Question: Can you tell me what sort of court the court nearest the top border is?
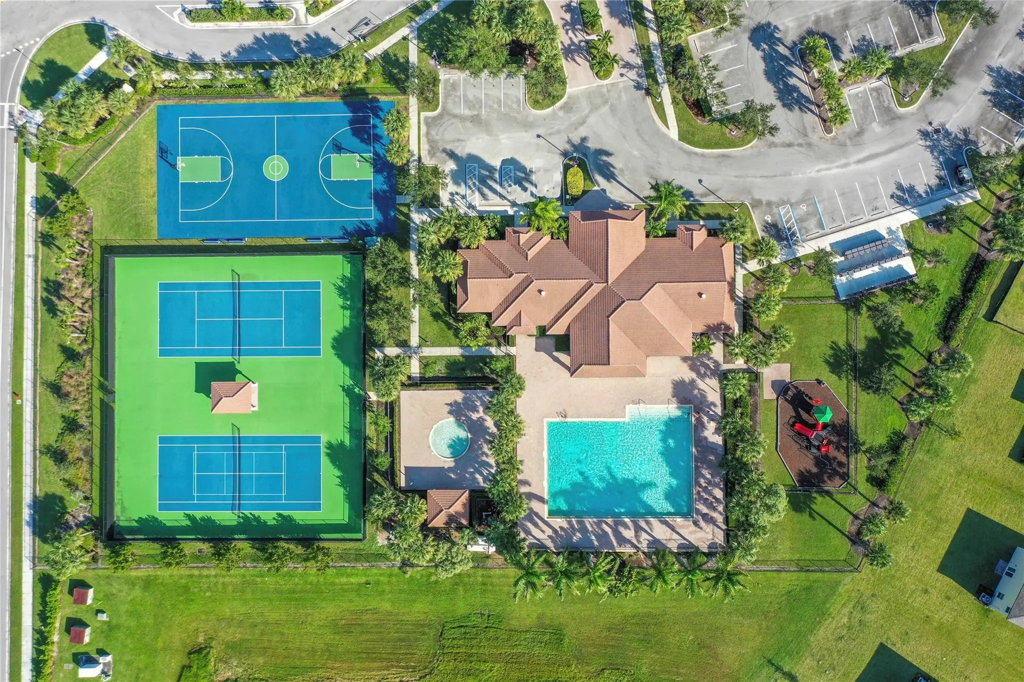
basketball court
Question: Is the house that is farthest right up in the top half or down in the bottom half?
bottom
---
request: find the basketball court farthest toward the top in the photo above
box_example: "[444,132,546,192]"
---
[157,101,396,237]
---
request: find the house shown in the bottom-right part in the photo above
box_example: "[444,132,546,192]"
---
[988,546,1024,627]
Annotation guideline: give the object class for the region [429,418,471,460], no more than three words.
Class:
swimming pool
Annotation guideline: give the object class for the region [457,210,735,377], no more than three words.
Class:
building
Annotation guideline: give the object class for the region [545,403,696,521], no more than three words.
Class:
swimming pool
